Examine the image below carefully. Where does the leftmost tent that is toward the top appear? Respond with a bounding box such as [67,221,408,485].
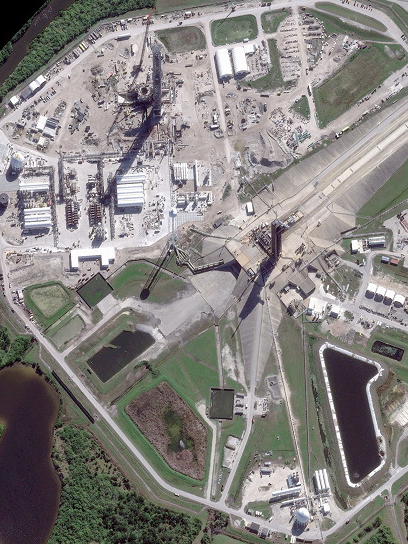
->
[216,51,233,81]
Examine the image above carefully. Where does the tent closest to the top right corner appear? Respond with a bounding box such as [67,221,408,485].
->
[232,49,250,78]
